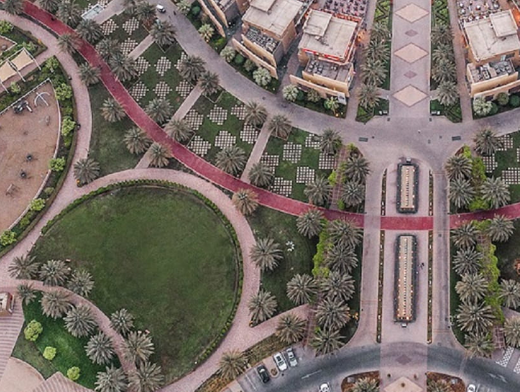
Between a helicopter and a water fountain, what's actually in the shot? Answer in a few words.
water fountain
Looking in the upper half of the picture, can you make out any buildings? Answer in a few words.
Yes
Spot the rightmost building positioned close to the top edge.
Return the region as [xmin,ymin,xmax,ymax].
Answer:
[465,10,520,96]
